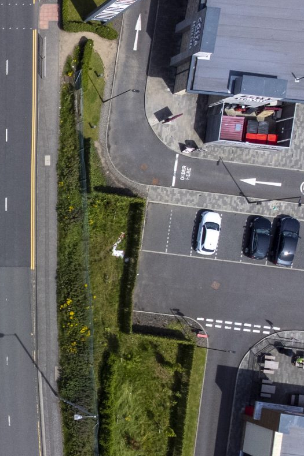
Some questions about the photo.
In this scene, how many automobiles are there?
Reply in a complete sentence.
Altogether the scene contains 3 automobiles.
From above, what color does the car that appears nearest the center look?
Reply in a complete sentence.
The car that appears nearest the center looks white in the image.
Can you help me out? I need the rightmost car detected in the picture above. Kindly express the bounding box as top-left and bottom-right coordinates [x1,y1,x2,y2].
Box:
[269,217,300,266]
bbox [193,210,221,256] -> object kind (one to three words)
car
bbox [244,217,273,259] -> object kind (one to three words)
car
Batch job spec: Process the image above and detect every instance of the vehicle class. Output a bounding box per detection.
[269,217,300,266]
[244,217,273,259]
[193,210,221,256]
